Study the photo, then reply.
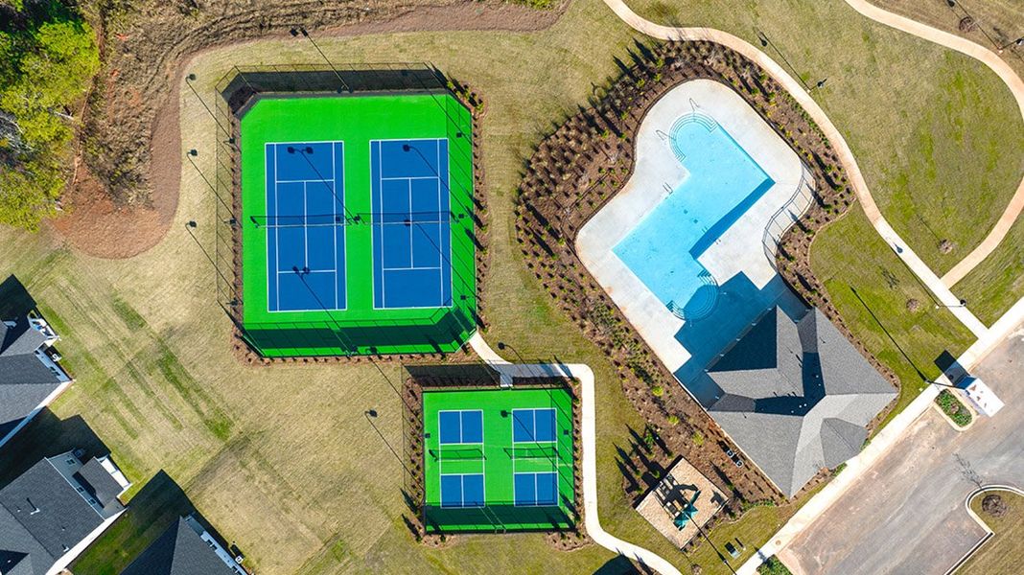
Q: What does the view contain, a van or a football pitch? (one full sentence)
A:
Of the two, only a van appears.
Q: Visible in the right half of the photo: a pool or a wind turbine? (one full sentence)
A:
Looking in the right half of the photo, you will find a pool.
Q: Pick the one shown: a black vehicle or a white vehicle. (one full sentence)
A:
The one in the frame is a white vehicle.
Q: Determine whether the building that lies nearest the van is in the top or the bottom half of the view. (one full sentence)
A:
The bottom half of the photo is where the building that lies nearest the van is.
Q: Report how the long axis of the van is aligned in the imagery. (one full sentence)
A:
The van is laid out at an angle.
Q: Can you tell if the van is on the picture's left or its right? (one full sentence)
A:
The van is on the right side of the image.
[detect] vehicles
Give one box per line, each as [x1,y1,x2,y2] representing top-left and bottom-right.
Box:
[953,372,1004,418]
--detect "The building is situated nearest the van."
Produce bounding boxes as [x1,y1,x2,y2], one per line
[700,305,897,495]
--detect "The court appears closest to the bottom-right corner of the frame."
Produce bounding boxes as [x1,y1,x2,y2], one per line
[498,390,576,532]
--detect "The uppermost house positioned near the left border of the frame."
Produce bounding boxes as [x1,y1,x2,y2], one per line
[0,304,71,452]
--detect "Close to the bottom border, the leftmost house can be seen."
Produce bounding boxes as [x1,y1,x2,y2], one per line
[0,450,137,575]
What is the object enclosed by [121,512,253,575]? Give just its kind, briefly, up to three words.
house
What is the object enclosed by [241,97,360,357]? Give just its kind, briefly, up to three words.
tennis court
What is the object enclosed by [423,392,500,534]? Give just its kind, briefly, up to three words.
sports court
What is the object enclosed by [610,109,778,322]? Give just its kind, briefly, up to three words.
swimming pool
